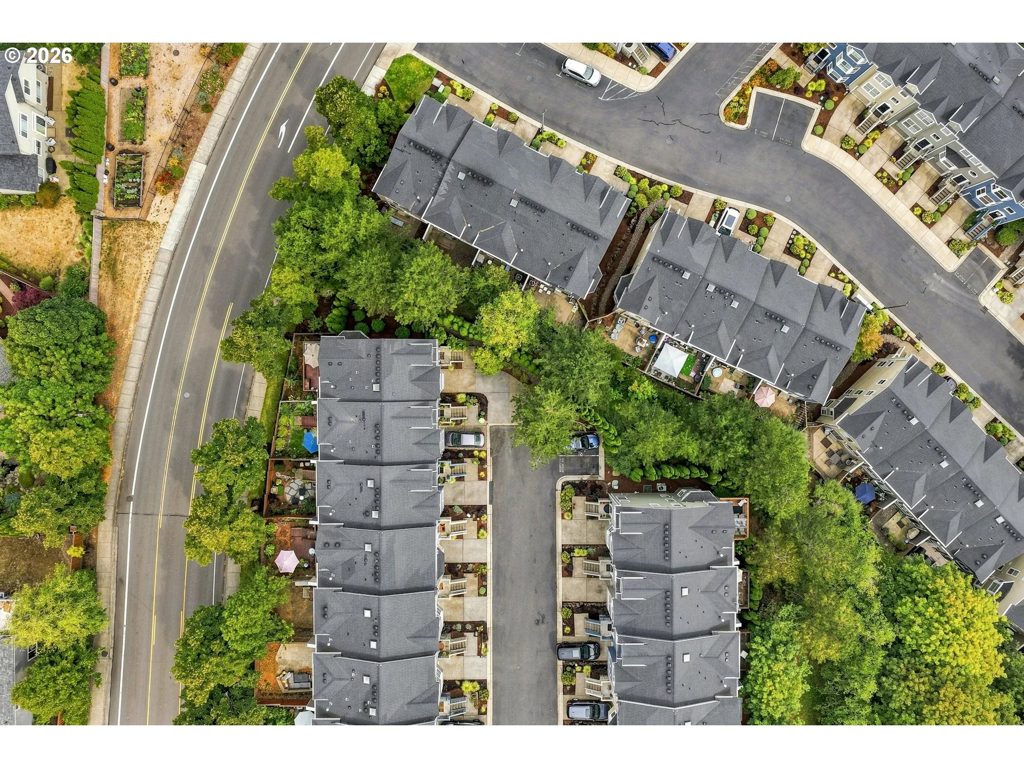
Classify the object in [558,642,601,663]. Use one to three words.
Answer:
car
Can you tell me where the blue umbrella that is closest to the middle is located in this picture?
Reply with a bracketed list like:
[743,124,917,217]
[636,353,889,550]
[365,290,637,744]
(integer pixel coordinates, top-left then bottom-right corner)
[301,430,320,455]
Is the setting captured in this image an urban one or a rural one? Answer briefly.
urban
